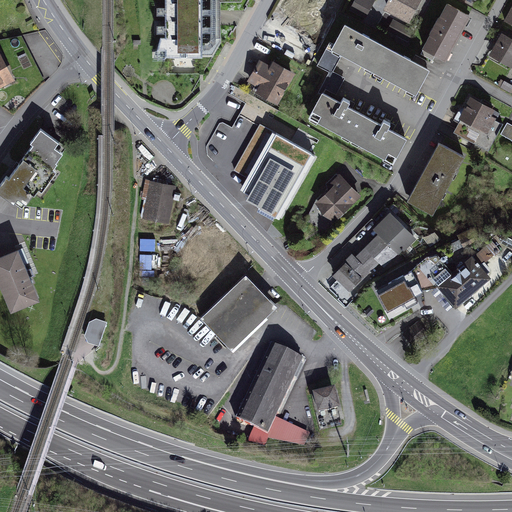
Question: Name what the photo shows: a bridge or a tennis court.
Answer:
bridge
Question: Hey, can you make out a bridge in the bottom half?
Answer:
Yes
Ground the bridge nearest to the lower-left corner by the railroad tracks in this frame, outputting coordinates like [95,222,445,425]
[20,364,76,492]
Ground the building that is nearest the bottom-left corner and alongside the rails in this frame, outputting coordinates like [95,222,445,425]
[84,319,107,346]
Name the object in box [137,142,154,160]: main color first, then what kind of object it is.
white vehicle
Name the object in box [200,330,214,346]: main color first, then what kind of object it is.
white vehicle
